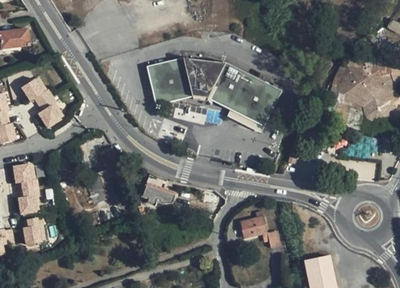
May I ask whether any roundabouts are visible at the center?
No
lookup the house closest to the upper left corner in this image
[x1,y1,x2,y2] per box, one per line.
[0,27,31,48]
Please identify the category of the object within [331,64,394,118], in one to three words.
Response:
house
